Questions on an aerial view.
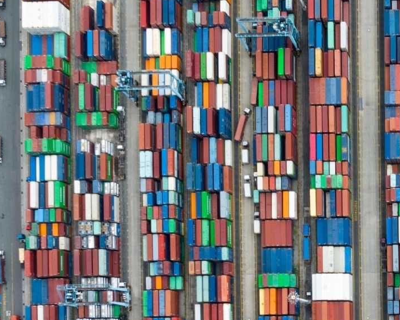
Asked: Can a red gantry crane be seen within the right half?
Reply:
No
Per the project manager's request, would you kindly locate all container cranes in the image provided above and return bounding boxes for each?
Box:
[58,280,131,314]
[114,65,186,108]
[235,14,300,59]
